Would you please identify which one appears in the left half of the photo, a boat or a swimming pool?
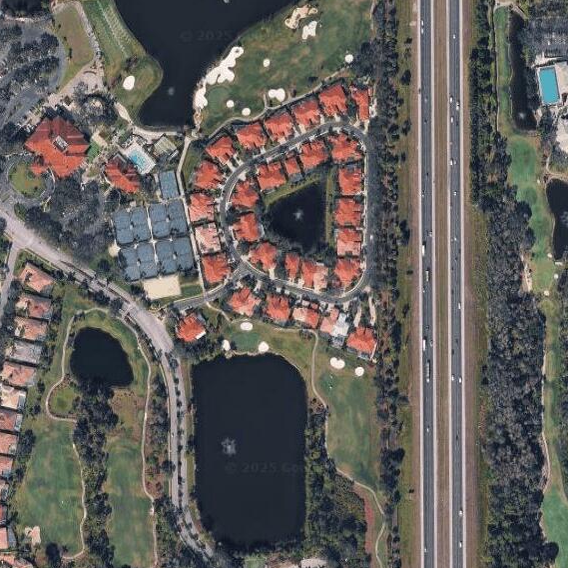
swimming pool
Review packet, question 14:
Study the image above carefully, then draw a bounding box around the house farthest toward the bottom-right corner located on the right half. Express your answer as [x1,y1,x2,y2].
[345,328,380,361]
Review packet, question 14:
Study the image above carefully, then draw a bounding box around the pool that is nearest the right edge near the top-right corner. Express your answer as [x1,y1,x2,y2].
[536,62,568,108]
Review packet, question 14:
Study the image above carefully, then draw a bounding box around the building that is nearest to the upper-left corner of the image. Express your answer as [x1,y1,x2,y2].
[20,113,92,178]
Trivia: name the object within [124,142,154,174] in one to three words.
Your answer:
swimming pool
